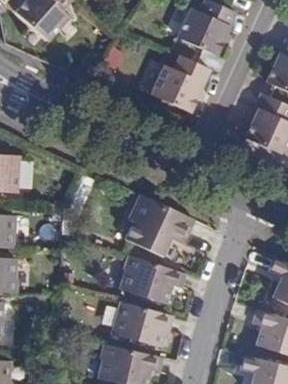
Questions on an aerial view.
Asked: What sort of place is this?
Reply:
residential area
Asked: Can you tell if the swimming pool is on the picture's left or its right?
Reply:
left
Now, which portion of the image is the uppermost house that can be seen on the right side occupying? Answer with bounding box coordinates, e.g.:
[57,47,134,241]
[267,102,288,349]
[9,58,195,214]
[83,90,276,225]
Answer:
[178,0,238,53]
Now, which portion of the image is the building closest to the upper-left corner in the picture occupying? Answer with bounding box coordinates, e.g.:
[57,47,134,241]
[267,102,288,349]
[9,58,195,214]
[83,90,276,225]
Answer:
[18,0,76,42]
